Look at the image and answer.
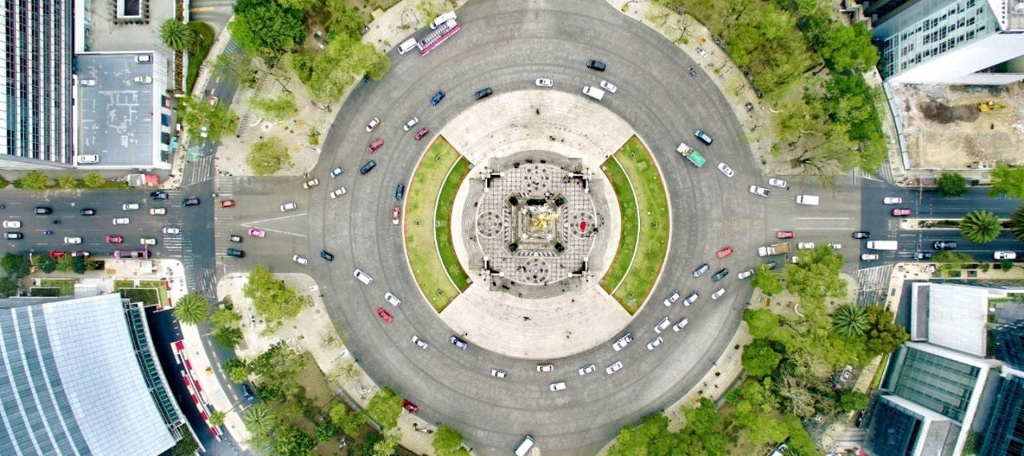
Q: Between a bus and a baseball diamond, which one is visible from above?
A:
bus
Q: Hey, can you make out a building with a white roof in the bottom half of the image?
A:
Yes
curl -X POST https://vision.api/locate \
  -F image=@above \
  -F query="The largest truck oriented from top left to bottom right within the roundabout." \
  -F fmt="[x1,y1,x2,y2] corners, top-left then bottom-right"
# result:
[674,141,708,169]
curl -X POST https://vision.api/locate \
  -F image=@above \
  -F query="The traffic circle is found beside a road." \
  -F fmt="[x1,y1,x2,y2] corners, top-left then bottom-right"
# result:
[306,0,766,454]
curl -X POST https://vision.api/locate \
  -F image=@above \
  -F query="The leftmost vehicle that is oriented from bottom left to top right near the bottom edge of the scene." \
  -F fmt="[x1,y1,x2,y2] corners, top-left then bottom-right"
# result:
[511,430,537,456]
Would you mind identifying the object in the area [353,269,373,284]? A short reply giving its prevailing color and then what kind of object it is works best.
white vehicle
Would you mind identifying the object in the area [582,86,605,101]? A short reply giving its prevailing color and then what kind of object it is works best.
white vehicle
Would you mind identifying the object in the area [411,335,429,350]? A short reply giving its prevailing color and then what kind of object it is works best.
white car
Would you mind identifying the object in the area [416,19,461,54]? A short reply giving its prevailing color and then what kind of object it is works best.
white bus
